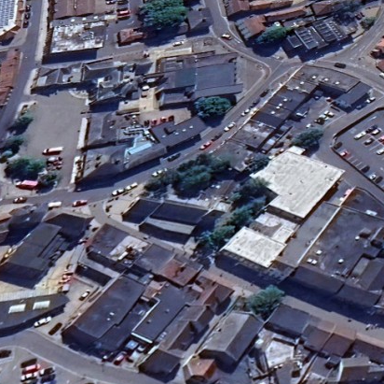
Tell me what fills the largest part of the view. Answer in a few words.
buildings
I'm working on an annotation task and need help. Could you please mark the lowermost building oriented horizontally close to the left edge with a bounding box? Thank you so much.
[0,294,74,336]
